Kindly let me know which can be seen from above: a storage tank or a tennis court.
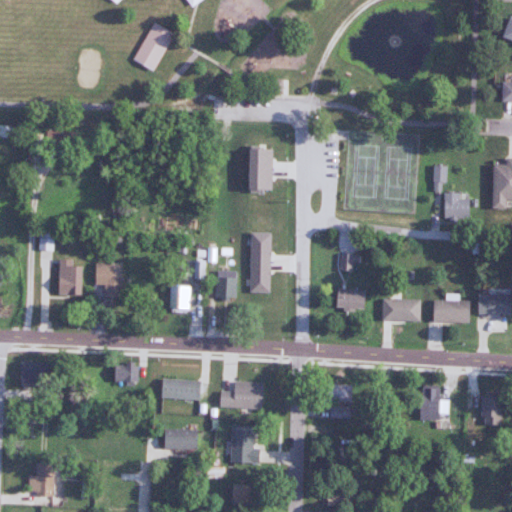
tennis court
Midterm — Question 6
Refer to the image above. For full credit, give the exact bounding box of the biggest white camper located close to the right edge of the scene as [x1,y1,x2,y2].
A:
[489,320,508,332]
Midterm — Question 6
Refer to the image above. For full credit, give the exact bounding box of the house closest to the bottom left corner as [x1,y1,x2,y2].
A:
[28,466,56,498]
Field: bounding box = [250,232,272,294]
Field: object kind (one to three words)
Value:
building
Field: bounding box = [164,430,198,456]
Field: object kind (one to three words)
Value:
house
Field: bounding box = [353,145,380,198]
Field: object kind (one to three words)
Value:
tennis court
